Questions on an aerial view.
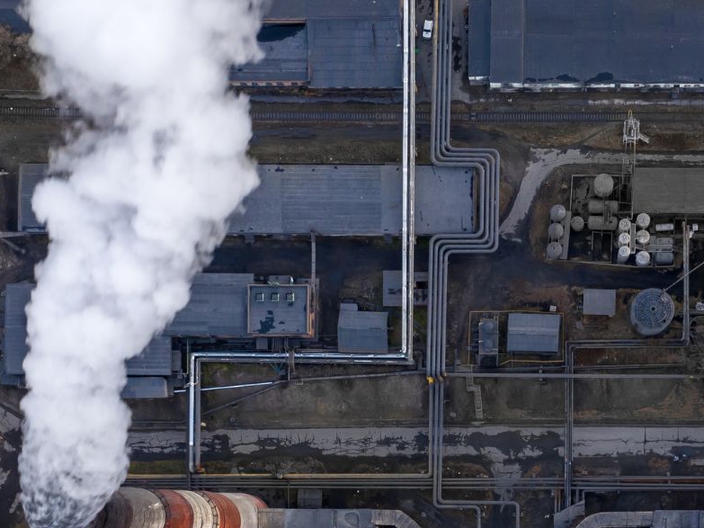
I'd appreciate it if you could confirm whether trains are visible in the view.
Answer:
No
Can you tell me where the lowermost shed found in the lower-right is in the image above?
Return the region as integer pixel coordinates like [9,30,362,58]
[553,502,584,528]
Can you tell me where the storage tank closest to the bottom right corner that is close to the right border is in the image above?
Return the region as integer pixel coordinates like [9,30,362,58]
[630,289,673,335]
